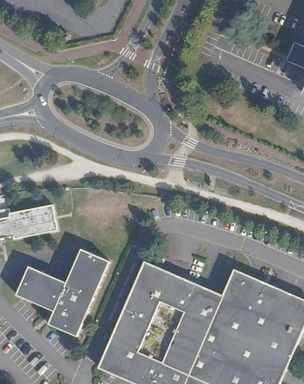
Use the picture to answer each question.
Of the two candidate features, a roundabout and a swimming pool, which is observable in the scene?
roundabout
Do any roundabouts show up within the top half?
Yes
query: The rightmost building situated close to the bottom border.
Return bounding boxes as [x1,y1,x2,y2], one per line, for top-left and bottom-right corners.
[98,262,304,384]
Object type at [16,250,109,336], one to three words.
building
